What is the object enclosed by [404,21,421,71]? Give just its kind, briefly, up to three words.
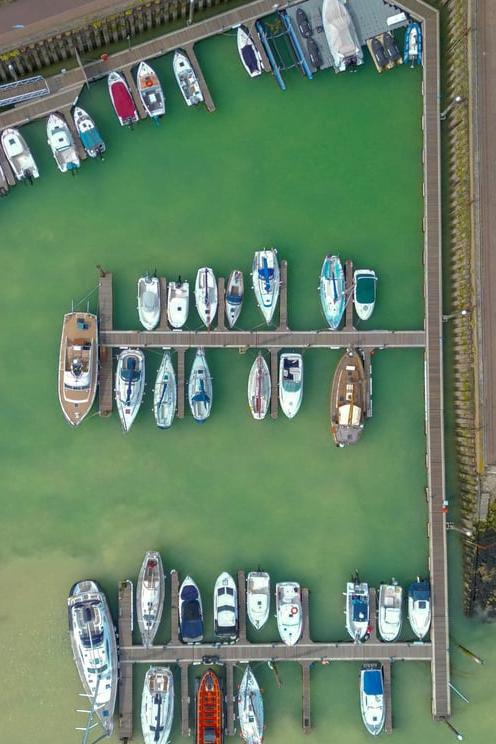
boat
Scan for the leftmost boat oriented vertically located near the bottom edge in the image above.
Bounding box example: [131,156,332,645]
[64,577,118,744]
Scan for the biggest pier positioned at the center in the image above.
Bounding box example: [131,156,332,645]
[113,330,427,348]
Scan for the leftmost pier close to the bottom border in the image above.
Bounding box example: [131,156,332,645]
[119,581,134,740]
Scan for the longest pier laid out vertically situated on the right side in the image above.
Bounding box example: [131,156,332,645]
[424,10,450,717]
